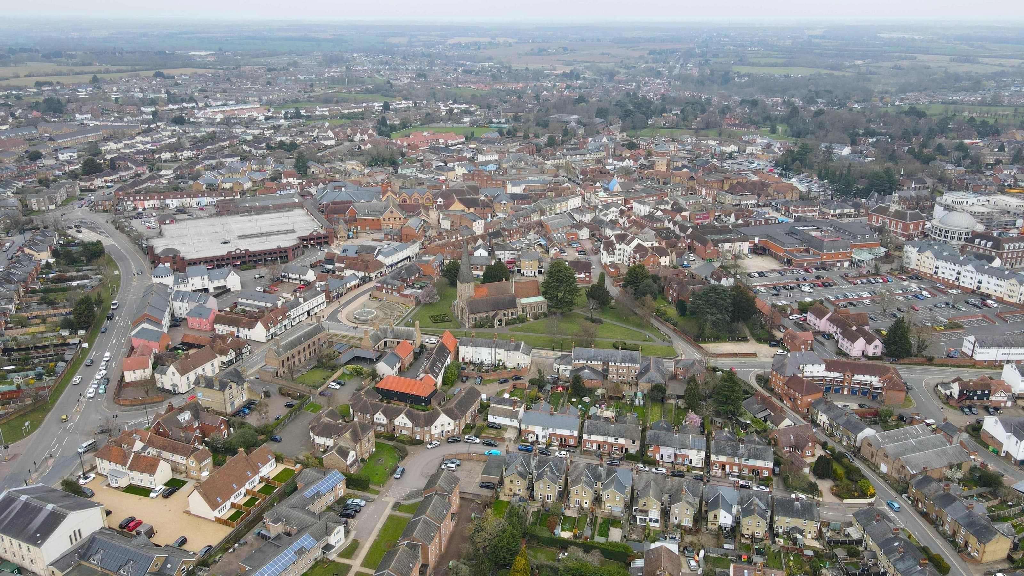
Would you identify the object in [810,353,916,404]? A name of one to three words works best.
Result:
building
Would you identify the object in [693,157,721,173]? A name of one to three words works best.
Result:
shed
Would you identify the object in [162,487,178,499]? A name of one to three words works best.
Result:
vehicle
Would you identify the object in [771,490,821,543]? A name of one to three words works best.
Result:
house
